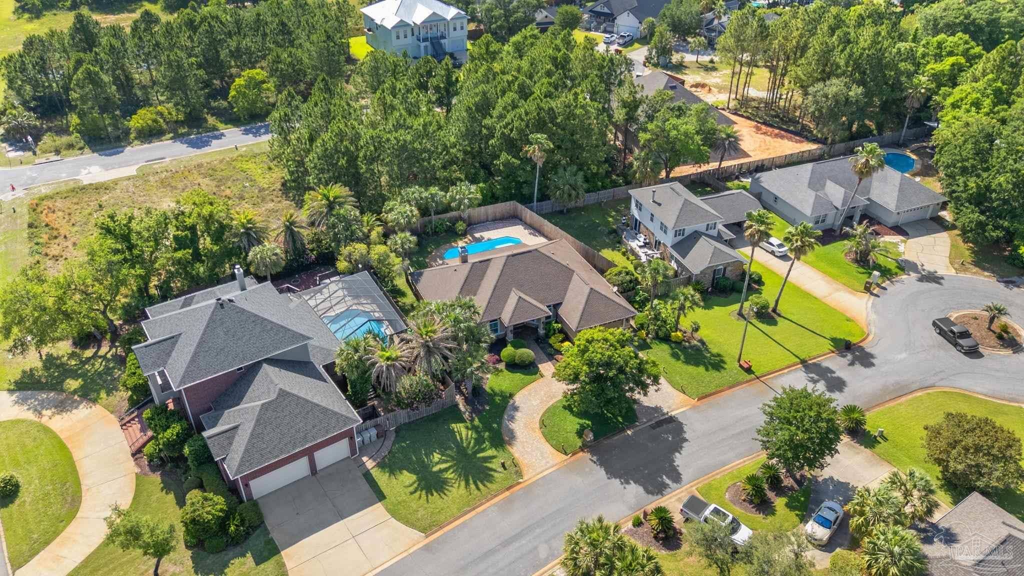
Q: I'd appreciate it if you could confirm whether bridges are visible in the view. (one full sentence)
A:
No, there isn't any bridge down there.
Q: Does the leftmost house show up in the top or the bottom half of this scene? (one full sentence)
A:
It is in the bottom half that the leftmost house appears.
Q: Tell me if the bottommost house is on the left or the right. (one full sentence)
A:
You can find the bottommost house on the right side of the picture.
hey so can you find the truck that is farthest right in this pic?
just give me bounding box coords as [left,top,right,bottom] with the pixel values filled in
[928,315,984,352]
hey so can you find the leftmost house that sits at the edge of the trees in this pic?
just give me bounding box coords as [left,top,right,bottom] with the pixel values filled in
[128,258,366,500]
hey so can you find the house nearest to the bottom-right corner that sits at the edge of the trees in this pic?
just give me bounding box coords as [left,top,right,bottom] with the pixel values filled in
[888,490,1024,576]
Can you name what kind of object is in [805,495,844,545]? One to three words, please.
car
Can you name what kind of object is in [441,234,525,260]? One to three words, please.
swimming pool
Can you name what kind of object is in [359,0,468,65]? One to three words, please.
house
